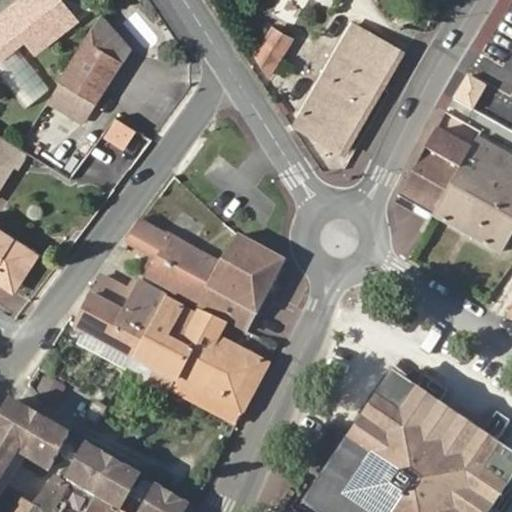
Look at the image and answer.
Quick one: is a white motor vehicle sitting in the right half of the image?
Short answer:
Yes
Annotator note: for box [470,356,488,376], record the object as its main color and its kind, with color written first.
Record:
white car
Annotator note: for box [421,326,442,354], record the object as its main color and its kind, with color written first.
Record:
white vehicle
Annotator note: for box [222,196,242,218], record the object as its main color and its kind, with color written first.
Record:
white car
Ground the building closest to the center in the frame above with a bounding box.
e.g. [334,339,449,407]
[206,233,286,312]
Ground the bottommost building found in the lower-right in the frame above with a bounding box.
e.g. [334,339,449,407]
[302,369,512,512]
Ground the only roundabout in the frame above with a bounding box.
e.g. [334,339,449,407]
[290,190,390,289]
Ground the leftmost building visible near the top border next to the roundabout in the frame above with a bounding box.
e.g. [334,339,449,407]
[293,21,406,170]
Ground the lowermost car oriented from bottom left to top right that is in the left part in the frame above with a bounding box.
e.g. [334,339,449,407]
[42,327,58,349]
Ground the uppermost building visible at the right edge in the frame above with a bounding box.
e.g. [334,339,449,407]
[454,73,486,108]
